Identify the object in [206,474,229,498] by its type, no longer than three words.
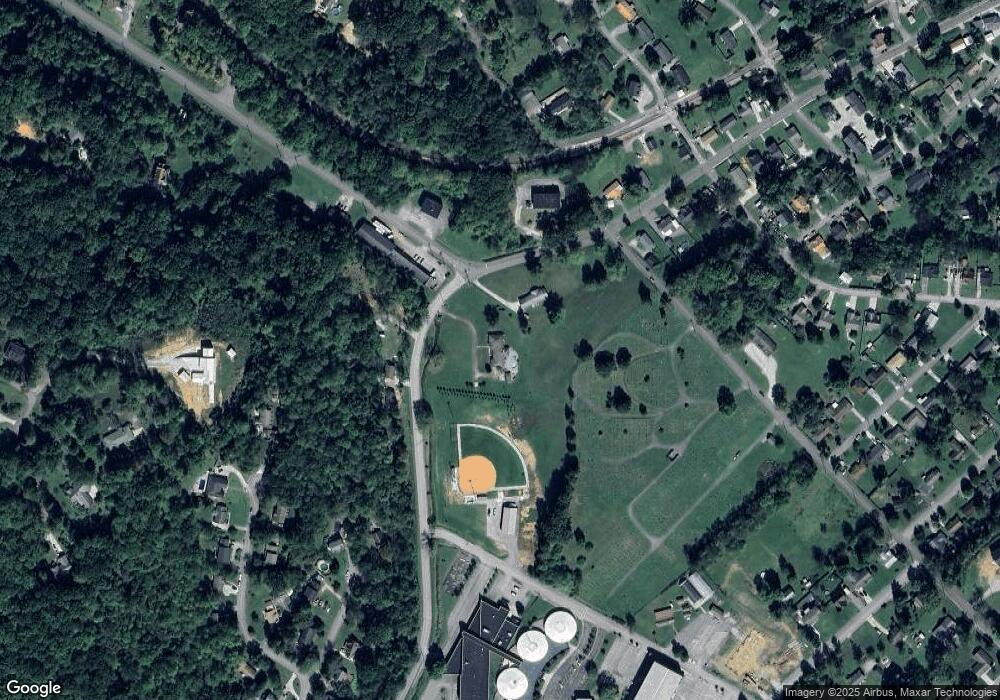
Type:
house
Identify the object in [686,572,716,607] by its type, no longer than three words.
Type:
building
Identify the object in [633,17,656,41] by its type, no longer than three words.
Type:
house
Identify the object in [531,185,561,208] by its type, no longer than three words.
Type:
building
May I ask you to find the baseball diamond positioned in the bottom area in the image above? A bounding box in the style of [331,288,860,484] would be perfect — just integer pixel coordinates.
[458,424,528,492]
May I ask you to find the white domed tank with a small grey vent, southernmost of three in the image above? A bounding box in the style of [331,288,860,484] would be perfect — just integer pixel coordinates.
[497,668,528,700]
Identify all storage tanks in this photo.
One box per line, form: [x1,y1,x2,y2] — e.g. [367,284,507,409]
[497,668,528,700]
[517,631,549,662]
[544,610,577,644]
